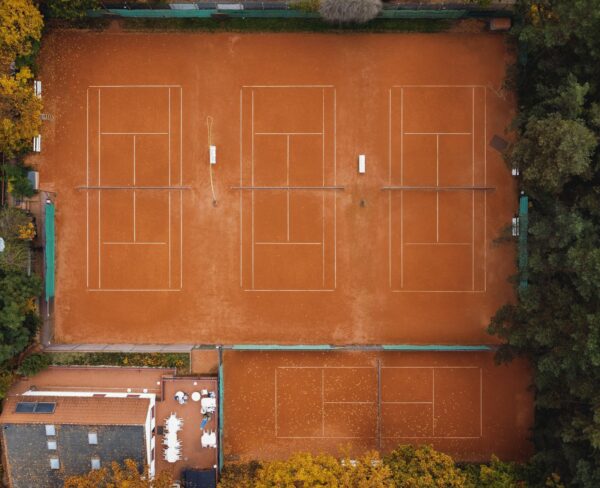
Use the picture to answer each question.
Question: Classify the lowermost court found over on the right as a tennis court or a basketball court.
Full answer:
In the photo, the lowermost court found over on the right shows up as a tennis court.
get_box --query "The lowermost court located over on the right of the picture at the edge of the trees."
[275,367,482,438]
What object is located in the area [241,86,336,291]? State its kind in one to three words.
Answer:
tennis court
